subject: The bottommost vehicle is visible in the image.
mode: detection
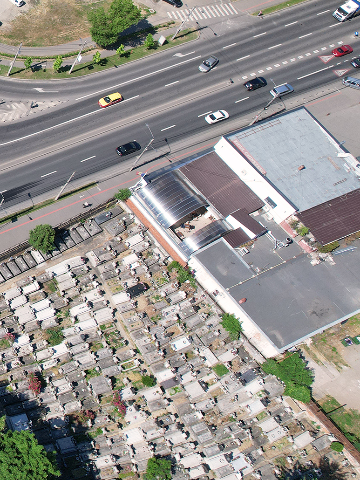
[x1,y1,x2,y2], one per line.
[114,140,142,156]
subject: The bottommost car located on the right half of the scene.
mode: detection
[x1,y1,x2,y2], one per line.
[203,110,230,124]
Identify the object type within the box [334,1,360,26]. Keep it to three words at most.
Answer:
truck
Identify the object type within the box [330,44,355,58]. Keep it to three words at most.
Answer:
vehicle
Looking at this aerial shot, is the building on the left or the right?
right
